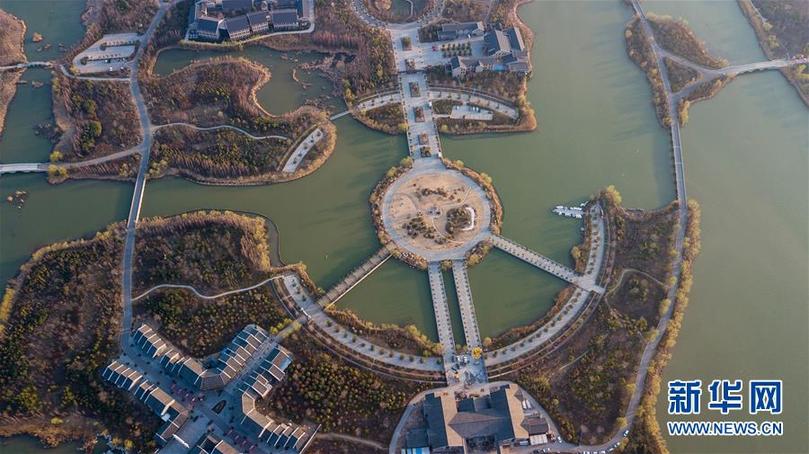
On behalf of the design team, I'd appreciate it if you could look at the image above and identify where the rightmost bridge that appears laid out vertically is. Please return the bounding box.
[671,123,690,204]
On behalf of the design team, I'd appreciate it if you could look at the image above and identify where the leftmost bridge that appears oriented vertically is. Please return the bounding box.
[125,177,145,225]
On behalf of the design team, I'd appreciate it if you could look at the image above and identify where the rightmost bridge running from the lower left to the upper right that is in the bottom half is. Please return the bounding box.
[315,244,393,310]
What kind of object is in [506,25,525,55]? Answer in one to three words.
building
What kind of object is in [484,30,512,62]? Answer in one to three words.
building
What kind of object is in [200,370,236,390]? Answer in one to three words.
house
